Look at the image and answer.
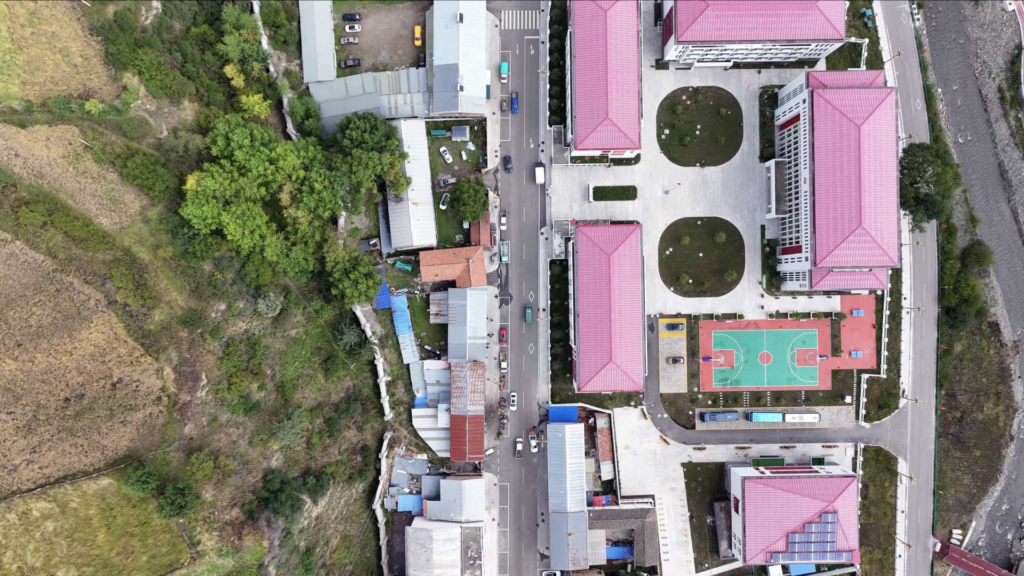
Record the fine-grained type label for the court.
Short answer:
basketball court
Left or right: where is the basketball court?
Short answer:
right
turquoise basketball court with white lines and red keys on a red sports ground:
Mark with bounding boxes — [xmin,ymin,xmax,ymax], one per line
[712,329,818,387]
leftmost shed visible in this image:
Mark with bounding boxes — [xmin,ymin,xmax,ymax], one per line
[301,0,339,85]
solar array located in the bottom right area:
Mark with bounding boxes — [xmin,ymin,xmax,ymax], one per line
[767,513,852,563]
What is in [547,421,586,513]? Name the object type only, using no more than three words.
house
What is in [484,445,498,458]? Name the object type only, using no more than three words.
vehicle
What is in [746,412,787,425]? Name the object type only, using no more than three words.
vehicle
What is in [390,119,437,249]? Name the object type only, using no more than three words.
shed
